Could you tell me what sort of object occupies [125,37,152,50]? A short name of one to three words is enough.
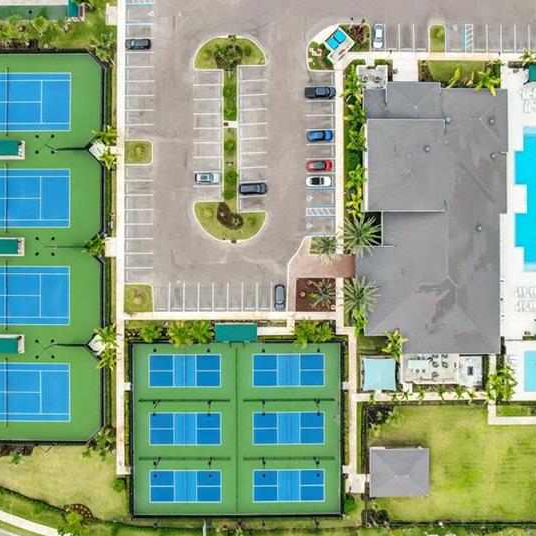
vehicle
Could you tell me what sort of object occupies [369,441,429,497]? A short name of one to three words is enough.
building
